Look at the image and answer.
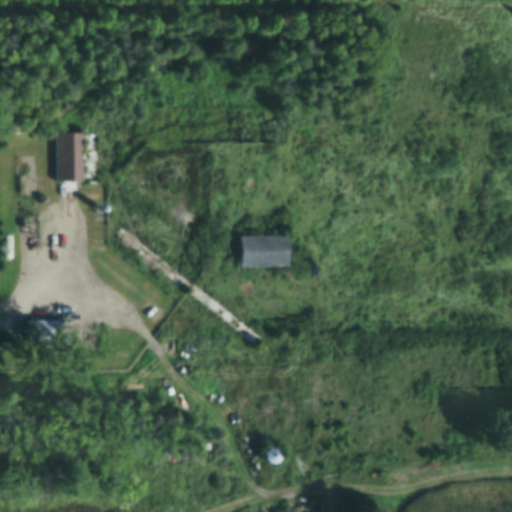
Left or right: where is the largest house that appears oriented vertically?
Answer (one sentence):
It is on the left.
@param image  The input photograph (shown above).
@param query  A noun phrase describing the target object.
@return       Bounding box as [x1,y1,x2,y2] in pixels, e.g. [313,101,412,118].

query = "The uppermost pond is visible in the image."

[441,388,512,452]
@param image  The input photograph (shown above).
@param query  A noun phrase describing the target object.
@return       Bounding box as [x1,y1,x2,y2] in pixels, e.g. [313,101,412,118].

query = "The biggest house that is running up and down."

[56,132,84,194]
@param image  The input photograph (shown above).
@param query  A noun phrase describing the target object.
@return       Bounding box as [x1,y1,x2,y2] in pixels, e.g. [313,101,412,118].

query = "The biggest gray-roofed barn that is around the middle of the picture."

[240,236,292,267]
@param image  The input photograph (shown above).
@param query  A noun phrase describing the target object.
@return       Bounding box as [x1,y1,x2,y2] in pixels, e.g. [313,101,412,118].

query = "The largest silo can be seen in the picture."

[262,448,284,466]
